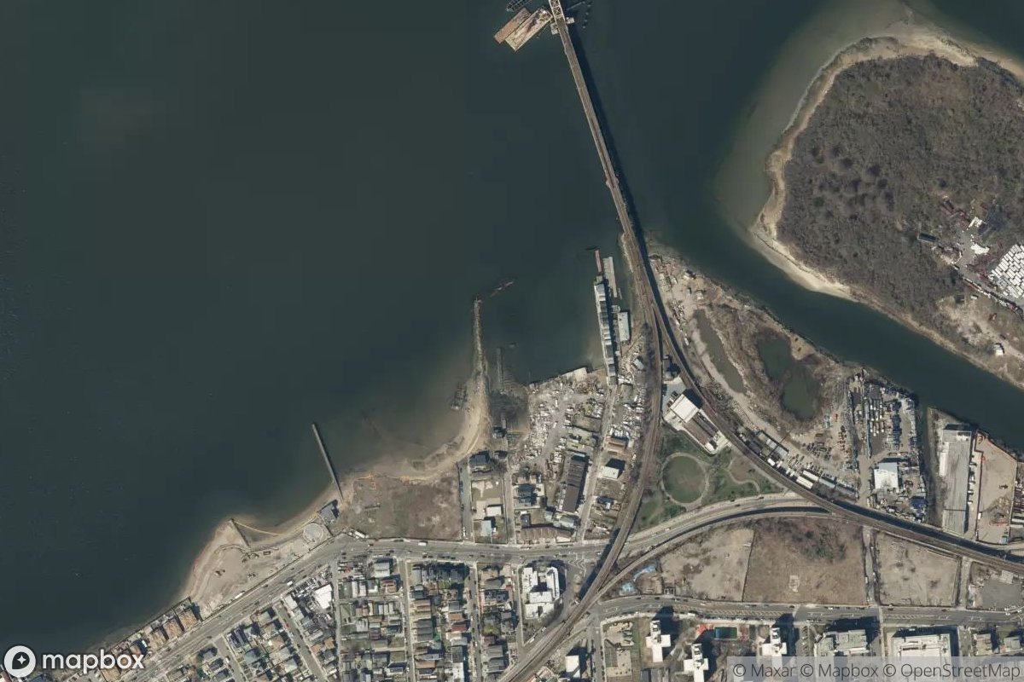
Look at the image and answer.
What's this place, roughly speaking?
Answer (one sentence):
What you see here is a port.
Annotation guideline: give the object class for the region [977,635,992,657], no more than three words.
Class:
house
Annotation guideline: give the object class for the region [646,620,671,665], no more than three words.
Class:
building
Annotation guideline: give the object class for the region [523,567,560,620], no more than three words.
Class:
building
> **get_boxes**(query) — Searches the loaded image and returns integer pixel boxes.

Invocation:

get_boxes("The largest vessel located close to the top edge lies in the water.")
[505,8,552,51]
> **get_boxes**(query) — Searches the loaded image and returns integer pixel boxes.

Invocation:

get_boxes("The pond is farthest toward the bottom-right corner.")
[759,333,820,418]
